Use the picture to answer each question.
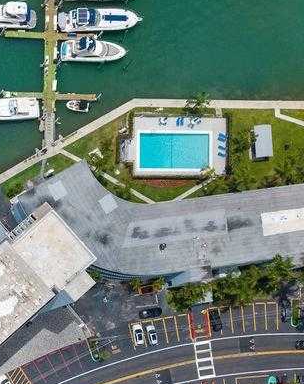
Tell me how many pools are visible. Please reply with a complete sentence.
Altogether the scene contains 1 pool.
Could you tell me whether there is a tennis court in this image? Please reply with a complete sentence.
No, there is no tennis court in the image.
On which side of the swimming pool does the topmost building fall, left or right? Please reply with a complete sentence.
The topmost building can be seen on the right of the swimming pool.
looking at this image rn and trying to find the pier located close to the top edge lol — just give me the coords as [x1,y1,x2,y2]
[0,0,98,116]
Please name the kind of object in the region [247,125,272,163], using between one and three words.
building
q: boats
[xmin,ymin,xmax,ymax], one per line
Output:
[59,34,126,63]
[64,102,89,115]
[0,0,36,31]
[57,5,142,34]
[0,97,41,124]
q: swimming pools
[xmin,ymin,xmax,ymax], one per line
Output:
[119,118,225,175]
